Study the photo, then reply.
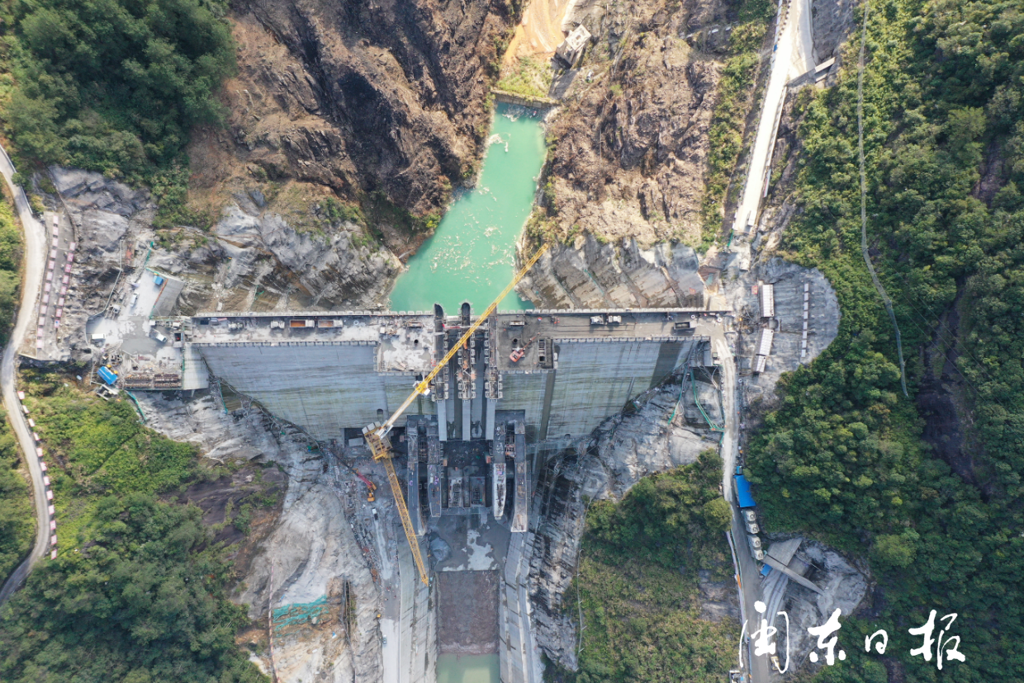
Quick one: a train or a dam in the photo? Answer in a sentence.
The one in the frame is a dam.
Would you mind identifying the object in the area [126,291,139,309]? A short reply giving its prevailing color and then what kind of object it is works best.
white vehicle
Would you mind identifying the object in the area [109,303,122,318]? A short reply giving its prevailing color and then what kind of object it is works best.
white vehicle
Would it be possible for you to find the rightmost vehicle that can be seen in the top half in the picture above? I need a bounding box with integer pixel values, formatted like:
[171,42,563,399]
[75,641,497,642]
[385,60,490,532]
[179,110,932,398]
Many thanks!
[746,207,758,228]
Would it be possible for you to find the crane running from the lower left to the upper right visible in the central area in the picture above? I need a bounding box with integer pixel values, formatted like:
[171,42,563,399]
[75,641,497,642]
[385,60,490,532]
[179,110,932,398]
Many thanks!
[377,245,548,436]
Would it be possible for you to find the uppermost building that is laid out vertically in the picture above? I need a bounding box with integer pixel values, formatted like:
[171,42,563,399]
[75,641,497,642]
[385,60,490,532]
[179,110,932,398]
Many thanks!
[762,284,777,317]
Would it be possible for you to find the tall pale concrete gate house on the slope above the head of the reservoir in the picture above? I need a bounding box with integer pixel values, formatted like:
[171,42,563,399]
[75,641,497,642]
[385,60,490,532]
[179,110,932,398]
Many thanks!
[557,24,591,65]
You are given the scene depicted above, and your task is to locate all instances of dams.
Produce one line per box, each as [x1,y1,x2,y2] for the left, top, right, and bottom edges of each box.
[187,298,734,467]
